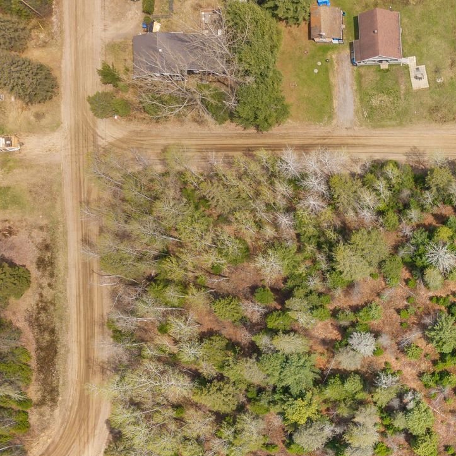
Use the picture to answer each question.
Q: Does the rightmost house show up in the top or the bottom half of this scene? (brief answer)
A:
top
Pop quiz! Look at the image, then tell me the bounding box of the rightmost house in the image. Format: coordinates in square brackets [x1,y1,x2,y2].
[354,7,402,65]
